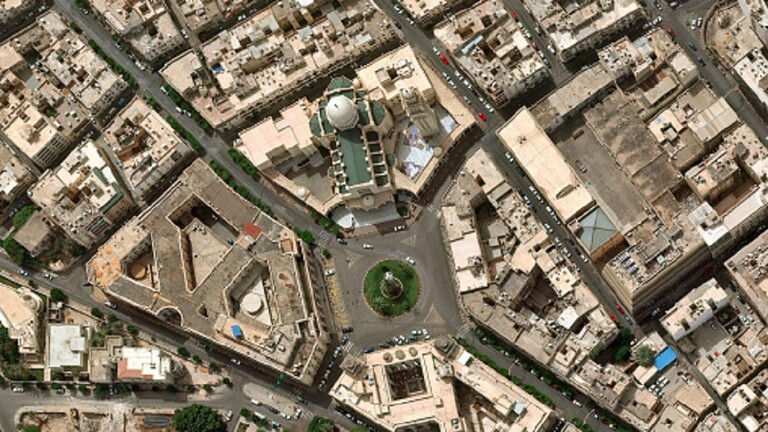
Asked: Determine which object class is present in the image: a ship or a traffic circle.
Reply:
traffic circle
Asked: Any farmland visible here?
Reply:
No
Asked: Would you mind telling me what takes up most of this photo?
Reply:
buildings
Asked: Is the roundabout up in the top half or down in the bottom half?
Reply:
bottom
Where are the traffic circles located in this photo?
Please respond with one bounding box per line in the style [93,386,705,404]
[363,258,421,316]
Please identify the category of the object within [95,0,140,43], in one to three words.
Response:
building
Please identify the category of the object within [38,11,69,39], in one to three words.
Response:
building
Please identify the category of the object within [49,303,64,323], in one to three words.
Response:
shed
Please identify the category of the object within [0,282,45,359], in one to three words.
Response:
house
